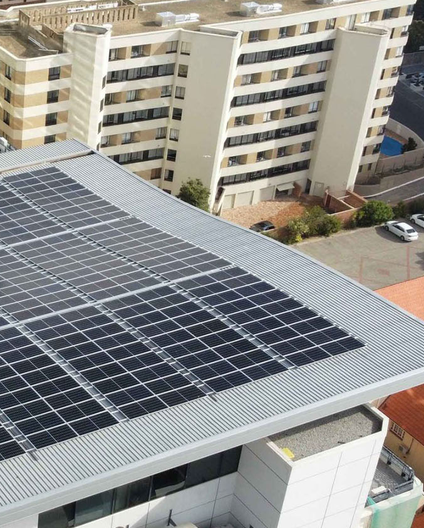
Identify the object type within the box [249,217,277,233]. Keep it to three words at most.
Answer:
car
